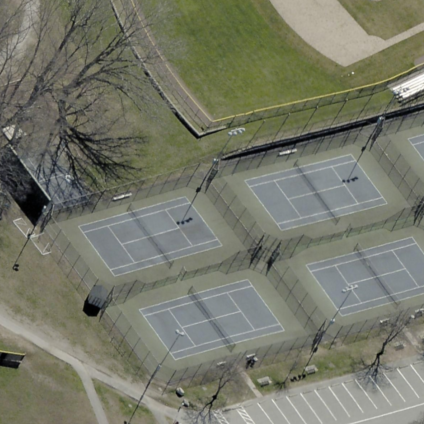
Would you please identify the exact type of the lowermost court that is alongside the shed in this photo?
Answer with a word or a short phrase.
tennis court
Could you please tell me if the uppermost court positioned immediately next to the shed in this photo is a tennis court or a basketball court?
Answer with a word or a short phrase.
tennis court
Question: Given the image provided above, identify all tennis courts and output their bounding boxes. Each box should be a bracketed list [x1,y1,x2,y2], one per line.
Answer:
[265,212,424,337]
[370,117,424,205]
[206,131,424,254]
[107,255,323,384]
[40,174,264,296]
